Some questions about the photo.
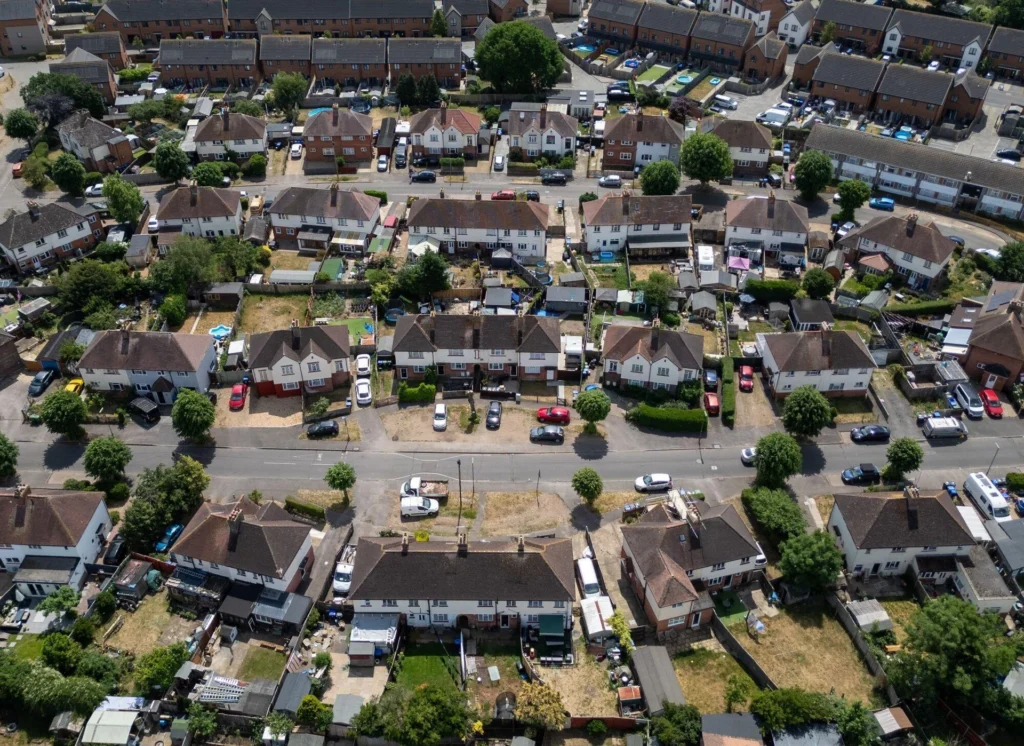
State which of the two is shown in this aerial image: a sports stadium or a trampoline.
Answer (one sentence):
Visible in the photo is a trampoline.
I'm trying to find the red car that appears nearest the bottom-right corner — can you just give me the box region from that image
[981,391,1003,416]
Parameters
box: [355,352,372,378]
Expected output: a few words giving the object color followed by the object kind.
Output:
white car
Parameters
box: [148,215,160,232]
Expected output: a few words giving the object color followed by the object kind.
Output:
white vehicle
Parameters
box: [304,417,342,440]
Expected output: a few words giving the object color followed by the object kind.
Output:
black car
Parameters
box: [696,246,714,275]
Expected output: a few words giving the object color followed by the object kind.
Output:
white camper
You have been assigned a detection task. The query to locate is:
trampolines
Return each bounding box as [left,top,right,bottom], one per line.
[380,297,406,323]
[350,93,372,112]
[531,261,555,286]
[490,678,519,717]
